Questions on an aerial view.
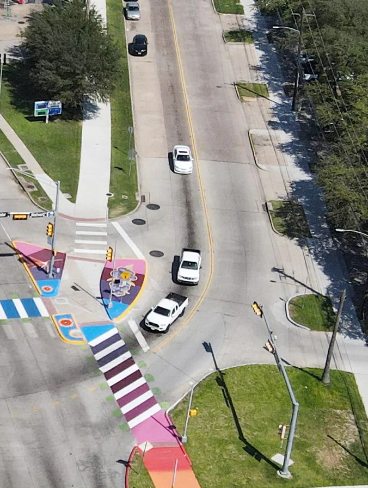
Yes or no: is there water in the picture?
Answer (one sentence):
No, no water is visible.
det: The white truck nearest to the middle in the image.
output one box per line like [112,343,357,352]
[177,243,204,281]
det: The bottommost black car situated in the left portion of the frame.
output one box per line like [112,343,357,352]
[132,34,149,53]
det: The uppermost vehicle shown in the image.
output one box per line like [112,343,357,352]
[126,0,143,17]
